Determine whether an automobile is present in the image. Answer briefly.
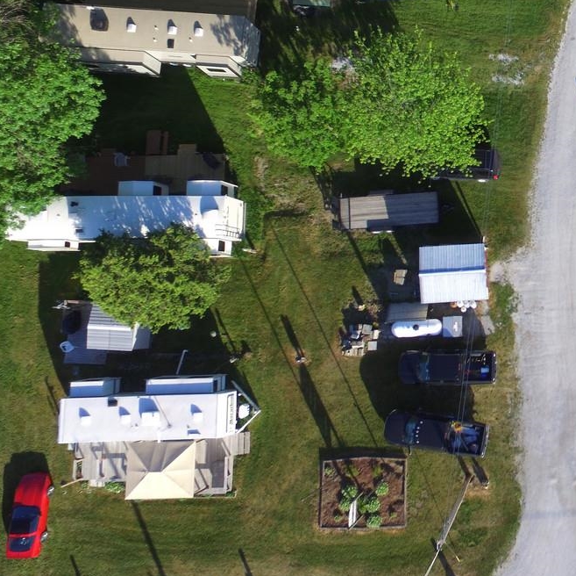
Yes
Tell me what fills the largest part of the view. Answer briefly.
grass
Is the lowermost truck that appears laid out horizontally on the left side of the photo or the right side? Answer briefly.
right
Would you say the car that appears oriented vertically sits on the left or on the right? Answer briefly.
left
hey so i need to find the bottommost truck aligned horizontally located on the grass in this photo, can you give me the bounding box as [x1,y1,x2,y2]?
[384,409,493,458]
